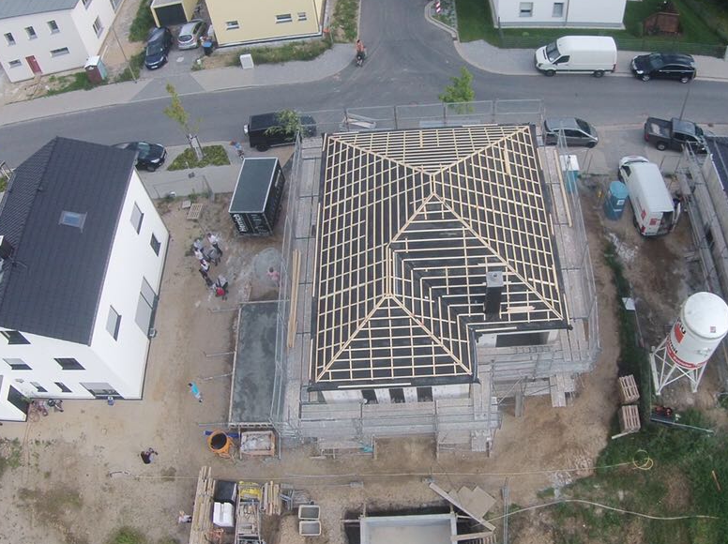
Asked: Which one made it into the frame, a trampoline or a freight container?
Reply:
freight container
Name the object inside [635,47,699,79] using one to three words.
car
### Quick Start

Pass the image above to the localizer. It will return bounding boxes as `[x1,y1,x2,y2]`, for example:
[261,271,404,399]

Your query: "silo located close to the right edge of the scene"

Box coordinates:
[649,299,728,394]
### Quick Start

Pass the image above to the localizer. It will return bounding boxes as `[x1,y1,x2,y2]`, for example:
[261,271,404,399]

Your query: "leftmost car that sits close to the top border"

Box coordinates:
[136,26,174,69]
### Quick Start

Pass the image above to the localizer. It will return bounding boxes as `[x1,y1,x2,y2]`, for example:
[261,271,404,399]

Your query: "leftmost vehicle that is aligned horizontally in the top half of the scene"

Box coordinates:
[104,138,165,166]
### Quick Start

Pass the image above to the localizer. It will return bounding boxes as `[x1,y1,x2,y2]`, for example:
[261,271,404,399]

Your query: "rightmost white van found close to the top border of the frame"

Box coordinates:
[540,27,621,69]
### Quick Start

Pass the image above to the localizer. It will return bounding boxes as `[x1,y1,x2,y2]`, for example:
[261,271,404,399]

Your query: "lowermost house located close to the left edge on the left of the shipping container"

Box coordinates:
[0,142,169,423]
